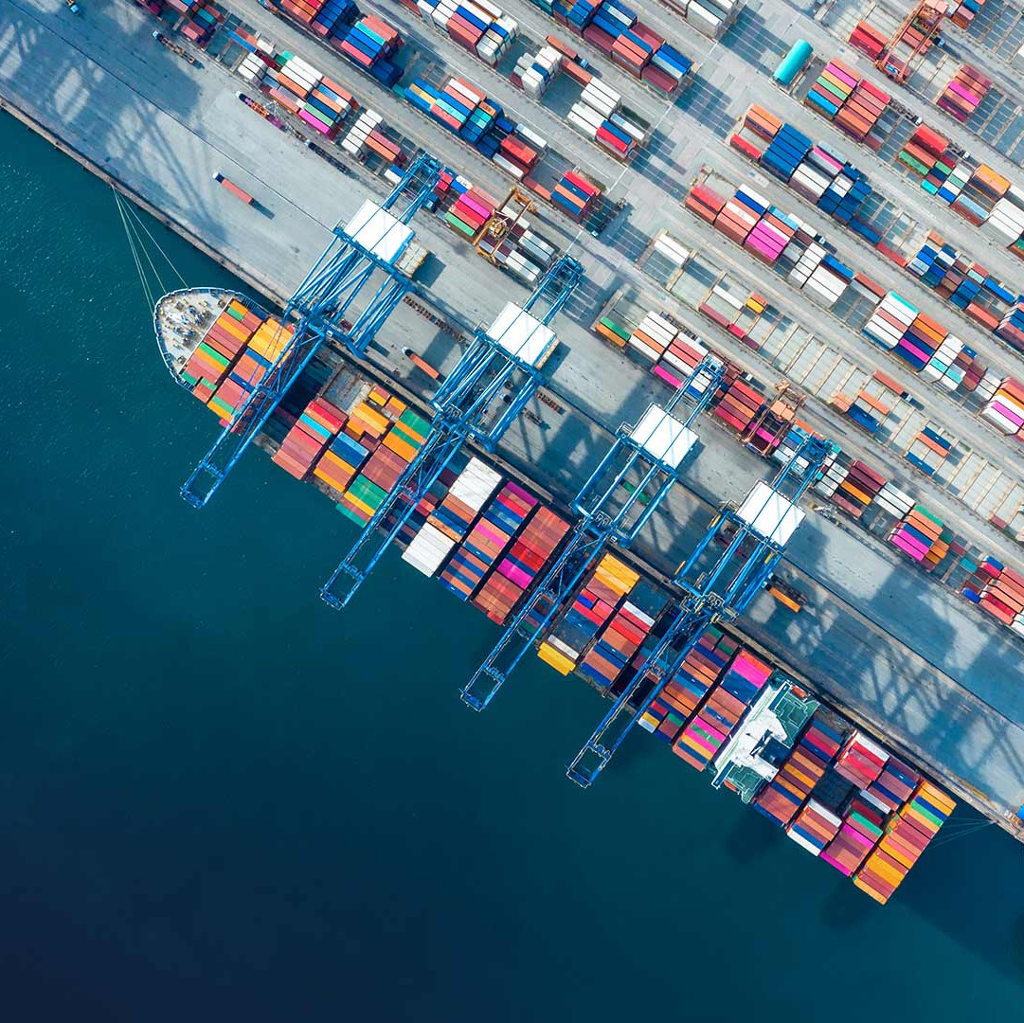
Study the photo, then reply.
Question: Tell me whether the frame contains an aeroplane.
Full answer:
No, there is no aeroplane in the image.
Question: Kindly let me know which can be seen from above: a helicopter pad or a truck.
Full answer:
Of the two, only a truck appears.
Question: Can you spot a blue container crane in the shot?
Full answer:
Yes, the frame does contain a blue container crane.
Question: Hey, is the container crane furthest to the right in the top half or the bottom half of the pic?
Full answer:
The top half of the photo is where the container crane furthest to the right is.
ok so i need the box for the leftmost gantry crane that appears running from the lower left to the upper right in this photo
[179,151,445,511]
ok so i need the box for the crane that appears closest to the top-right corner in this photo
[869,7,943,103]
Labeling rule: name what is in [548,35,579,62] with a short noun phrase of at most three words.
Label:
shipping container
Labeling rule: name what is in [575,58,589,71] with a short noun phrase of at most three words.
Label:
vehicle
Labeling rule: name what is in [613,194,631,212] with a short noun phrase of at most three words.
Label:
work vehicle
